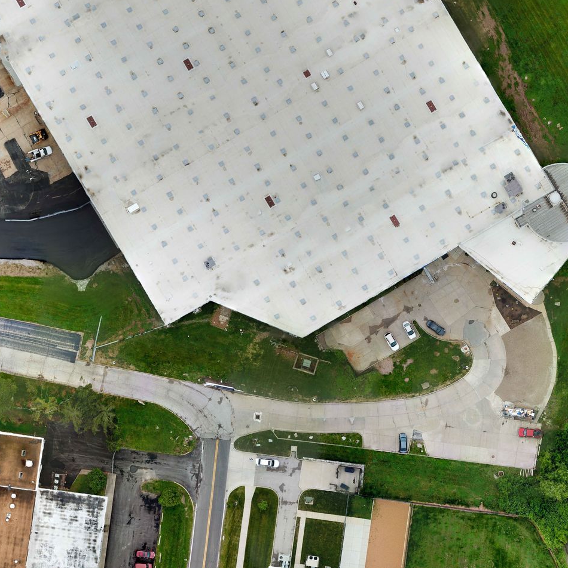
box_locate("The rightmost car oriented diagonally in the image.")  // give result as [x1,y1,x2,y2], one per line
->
[426,319,446,336]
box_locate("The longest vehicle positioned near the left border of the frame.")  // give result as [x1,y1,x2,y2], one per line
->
[25,147,54,161]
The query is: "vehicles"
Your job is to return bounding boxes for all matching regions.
[25,147,54,161]
[426,319,446,336]
[137,550,155,559]
[399,434,408,454]
[257,459,279,468]
[132,562,156,568]
[384,333,400,353]
[518,428,542,438]
[27,130,46,145]
[402,322,417,342]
